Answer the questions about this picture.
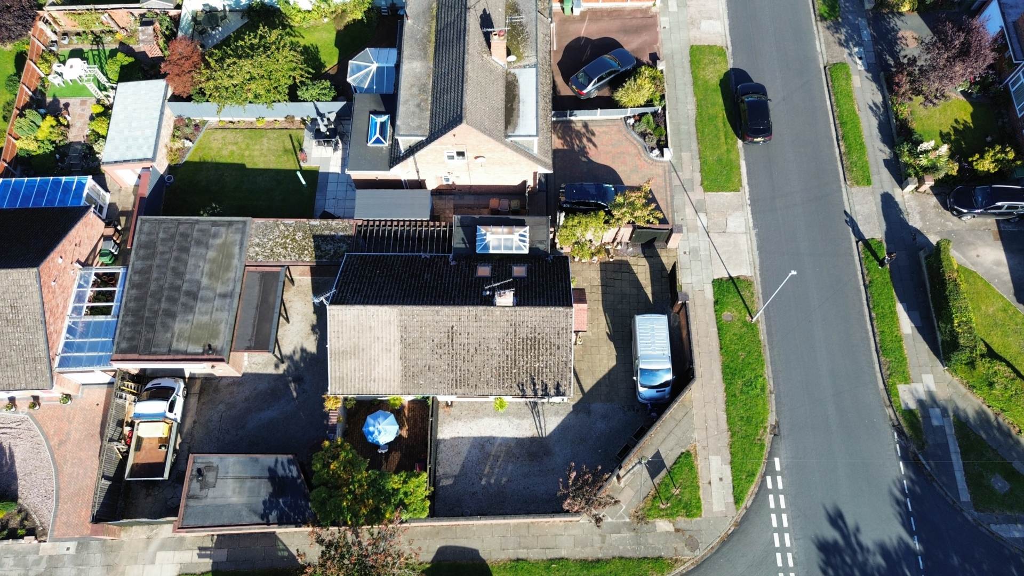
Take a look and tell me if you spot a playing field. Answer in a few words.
No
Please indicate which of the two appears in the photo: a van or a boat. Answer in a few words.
van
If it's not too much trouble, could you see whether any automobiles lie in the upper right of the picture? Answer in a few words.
Yes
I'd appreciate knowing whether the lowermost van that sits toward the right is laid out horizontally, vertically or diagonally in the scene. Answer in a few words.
vertically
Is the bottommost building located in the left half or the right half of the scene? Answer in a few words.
left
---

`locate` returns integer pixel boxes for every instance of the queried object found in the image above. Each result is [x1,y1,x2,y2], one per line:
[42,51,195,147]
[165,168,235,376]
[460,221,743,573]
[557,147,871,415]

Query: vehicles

[565,47,643,102]
[628,311,680,409]
[125,376,193,479]
[732,84,774,147]
[939,185,1024,226]
[556,178,638,219]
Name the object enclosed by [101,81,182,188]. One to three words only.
building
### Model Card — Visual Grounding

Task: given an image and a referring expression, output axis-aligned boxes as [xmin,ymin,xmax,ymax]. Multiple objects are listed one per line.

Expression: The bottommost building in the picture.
[176,454,314,532]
